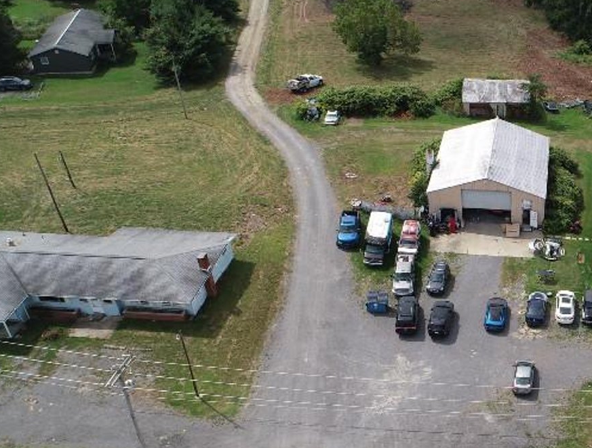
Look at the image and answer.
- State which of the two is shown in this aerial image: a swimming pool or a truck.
truck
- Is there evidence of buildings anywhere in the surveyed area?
Yes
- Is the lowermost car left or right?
right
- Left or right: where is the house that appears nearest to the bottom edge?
left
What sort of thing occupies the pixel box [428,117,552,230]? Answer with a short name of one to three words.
building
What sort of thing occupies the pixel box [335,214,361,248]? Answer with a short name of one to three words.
truck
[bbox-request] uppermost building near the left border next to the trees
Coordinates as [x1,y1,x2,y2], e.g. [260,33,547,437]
[24,6,132,74]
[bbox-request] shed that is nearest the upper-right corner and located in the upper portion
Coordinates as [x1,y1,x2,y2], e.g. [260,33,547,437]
[462,79,532,118]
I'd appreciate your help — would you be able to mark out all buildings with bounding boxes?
[0,229,243,351]
[462,79,532,118]
[24,6,132,74]
[428,117,552,230]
